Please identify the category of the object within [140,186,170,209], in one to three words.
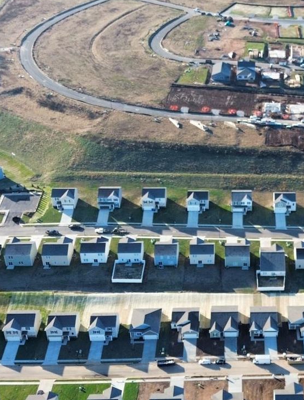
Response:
house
